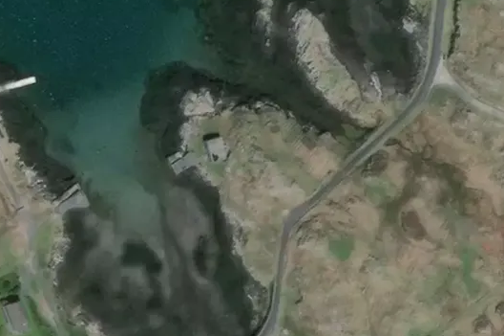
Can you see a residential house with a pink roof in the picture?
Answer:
No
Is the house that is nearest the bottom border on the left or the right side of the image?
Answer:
left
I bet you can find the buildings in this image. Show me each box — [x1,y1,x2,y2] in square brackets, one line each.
[1,302,28,335]
[206,139,231,165]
